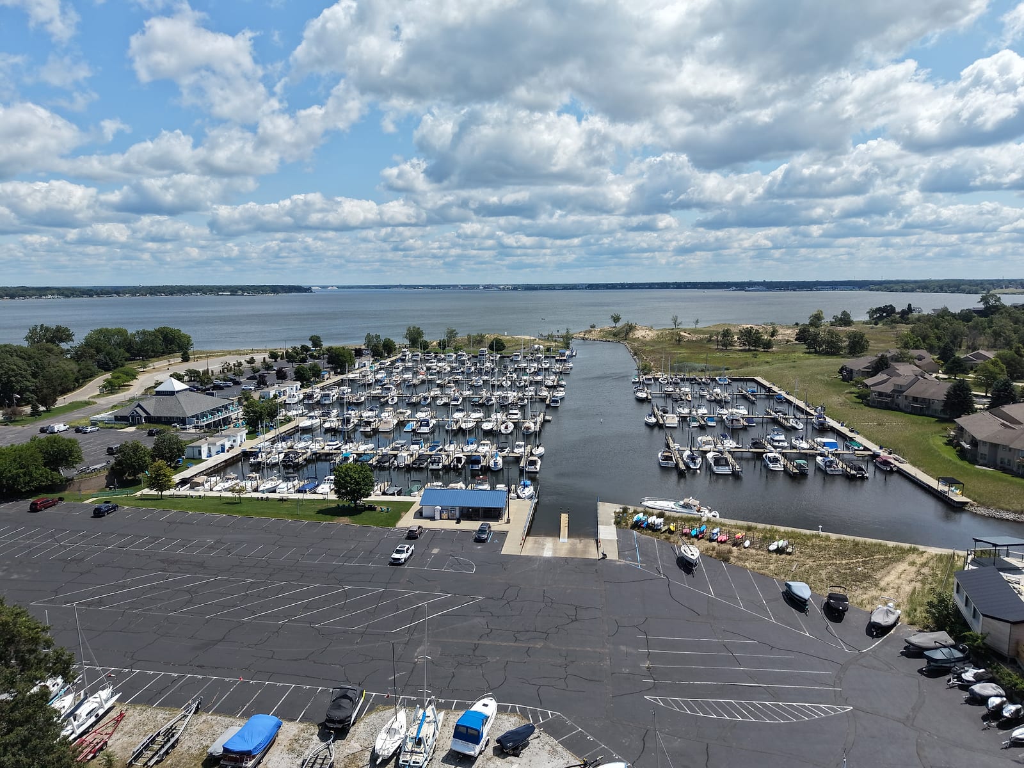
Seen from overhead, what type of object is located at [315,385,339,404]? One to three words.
boat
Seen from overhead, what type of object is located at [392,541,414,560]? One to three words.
vehicle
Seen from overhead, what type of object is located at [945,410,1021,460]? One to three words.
house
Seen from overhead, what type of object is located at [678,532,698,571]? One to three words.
boat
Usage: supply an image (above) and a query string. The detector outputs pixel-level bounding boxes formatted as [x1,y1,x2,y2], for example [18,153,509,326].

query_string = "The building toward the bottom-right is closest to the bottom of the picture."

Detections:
[955,561,1024,658]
